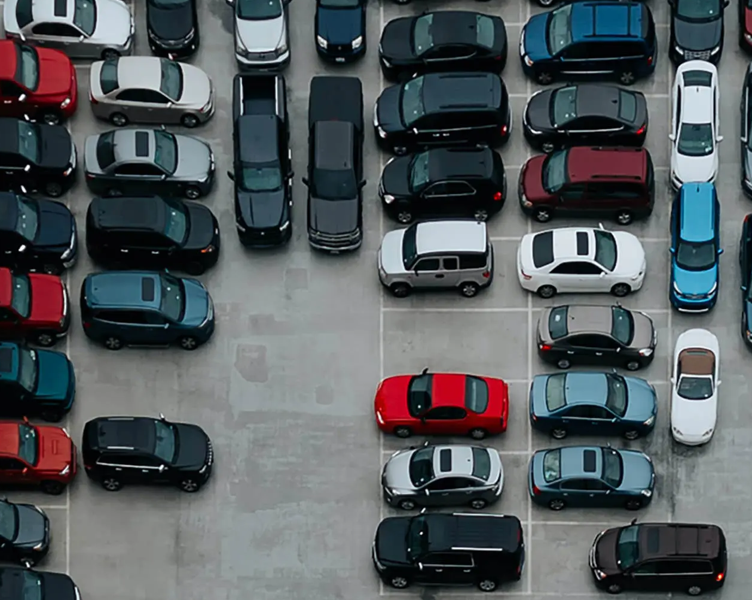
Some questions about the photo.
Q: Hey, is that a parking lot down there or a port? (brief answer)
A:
parking lot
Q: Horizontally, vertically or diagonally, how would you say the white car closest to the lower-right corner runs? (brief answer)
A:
vertically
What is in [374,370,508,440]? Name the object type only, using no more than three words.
car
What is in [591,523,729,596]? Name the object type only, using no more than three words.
car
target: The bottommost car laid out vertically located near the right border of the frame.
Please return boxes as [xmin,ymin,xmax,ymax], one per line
[670,329,723,442]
